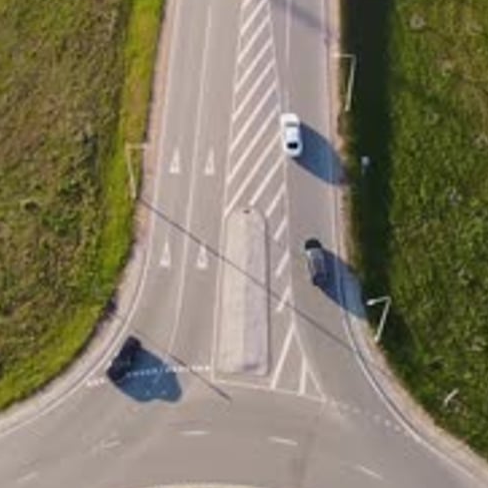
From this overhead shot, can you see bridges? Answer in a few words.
No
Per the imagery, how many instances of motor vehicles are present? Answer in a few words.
3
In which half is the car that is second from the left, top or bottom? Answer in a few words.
top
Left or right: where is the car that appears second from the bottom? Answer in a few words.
right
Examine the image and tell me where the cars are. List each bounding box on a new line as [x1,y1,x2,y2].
[103,334,144,390]
[304,241,331,290]
[279,117,302,157]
